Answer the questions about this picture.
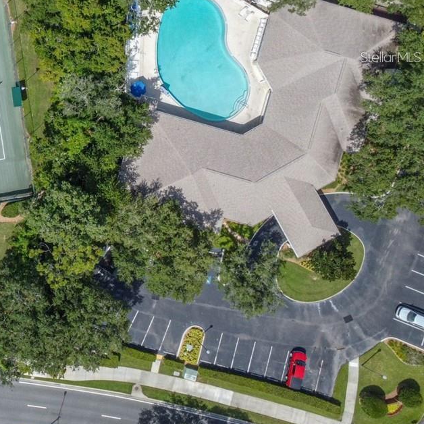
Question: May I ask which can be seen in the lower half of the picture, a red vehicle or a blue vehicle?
red vehicle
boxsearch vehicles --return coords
[286,349,308,390]
[393,307,424,328]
